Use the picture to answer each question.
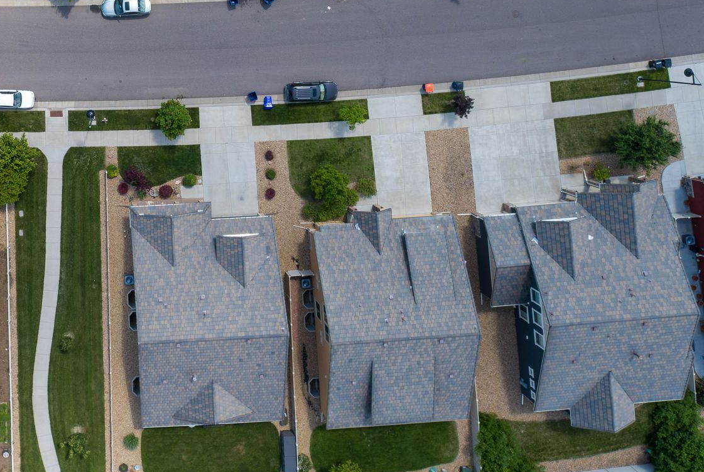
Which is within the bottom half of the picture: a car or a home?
home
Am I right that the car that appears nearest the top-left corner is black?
No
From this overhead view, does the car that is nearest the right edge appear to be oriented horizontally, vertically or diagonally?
horizontally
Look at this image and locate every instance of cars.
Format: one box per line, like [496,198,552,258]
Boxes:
[0,88,35,112]
[283,79,337,104]
[101,0,152,20]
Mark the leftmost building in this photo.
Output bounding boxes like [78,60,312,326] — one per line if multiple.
[125,199,286,431]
